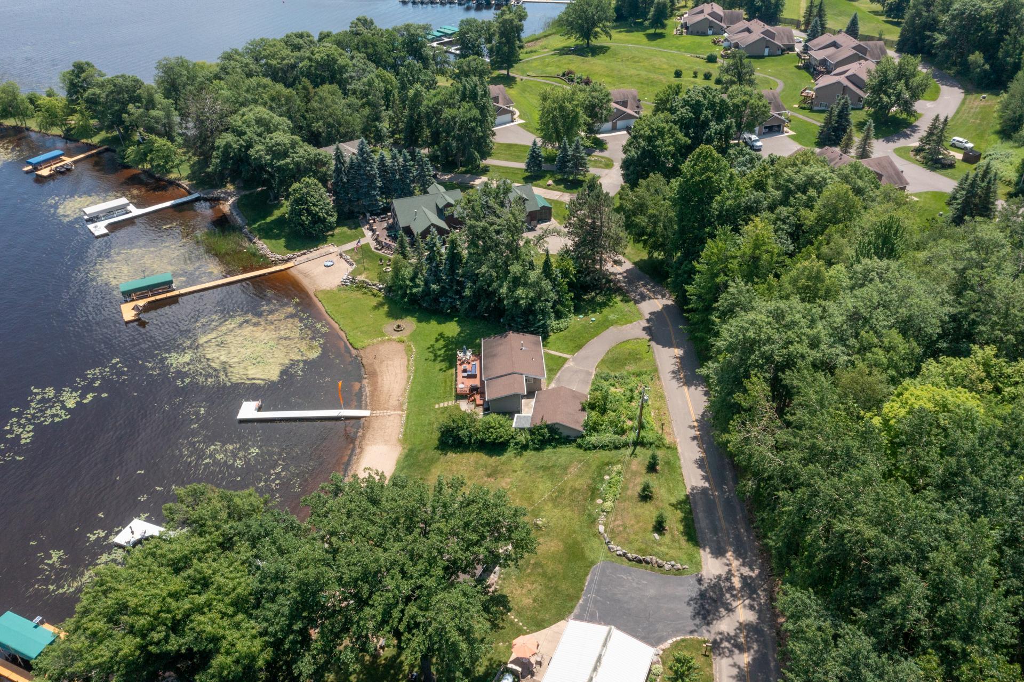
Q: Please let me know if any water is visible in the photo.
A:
Yes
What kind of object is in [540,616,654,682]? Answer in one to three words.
building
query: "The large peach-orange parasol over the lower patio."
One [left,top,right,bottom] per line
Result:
[511,637,538,664]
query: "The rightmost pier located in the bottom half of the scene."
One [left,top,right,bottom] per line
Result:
[237,402,371,422]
